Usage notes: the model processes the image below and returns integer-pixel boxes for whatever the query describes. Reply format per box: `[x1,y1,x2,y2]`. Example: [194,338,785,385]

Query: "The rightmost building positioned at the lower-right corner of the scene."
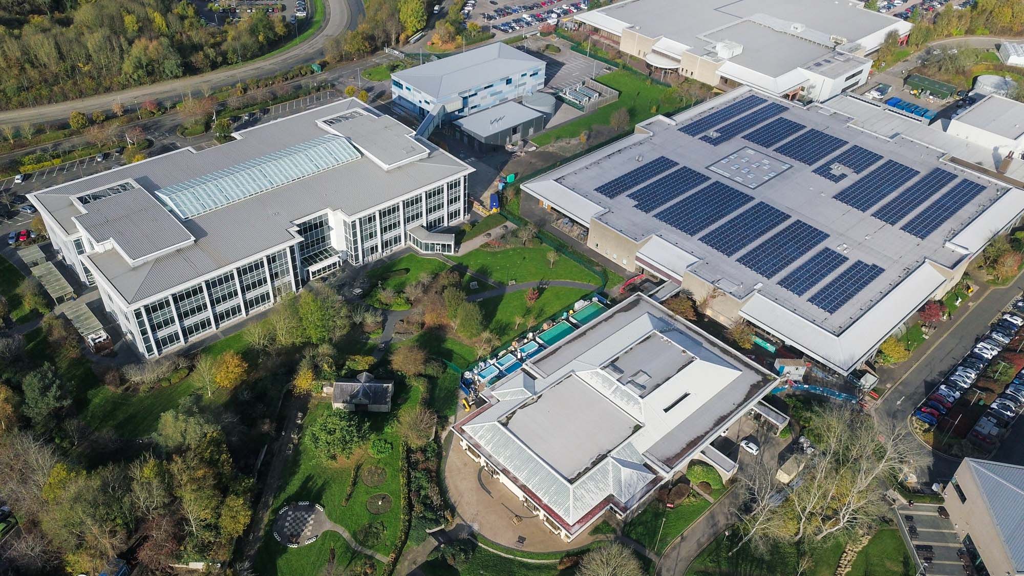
[949,457,1024,576]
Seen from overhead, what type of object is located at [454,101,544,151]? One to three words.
building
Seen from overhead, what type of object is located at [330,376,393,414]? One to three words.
house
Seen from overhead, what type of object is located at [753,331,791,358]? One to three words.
shipping container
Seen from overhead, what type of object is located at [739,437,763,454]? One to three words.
car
